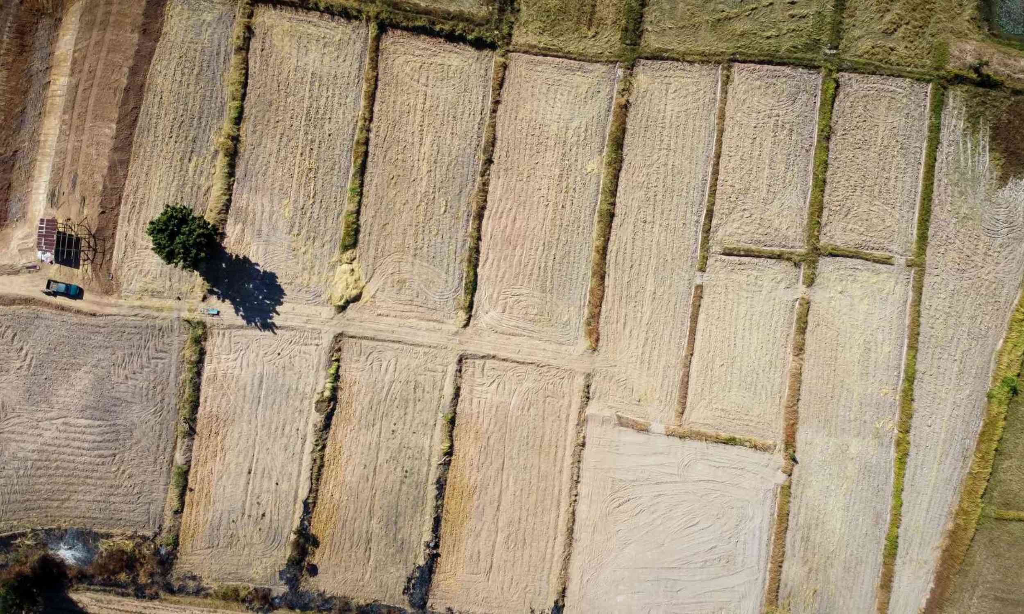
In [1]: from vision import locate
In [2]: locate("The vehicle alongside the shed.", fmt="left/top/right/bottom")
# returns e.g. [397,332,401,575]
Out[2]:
[40,279,81,297]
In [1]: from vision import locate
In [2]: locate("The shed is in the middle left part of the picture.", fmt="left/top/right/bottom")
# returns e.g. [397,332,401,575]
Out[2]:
[37,219,92,267]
